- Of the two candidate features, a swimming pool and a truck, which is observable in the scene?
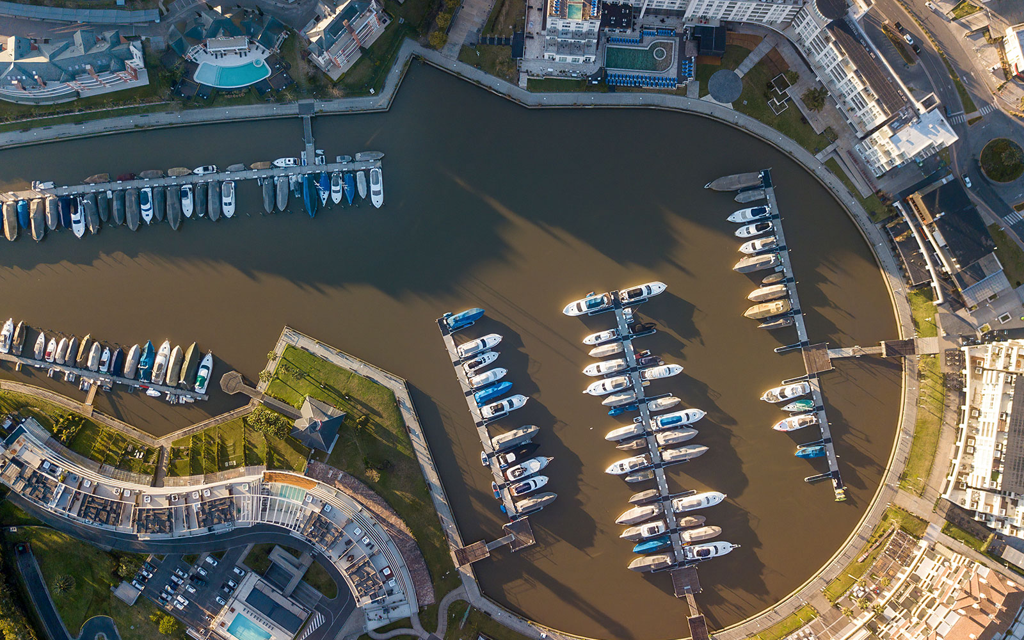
swimming pool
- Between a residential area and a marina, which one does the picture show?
marina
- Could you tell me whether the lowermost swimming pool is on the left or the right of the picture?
left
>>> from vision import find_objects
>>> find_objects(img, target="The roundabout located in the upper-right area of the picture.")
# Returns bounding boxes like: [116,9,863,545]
[980,138,1024,181]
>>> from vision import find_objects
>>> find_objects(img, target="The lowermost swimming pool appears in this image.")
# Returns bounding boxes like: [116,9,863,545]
[221,611,275,640]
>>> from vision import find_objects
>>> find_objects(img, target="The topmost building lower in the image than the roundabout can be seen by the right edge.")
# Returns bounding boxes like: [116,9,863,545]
[886,178,1011,308]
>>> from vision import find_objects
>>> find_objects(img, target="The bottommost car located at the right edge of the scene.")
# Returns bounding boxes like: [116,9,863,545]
[962,173,974,188]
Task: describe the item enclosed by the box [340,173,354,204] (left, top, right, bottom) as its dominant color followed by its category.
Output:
blue boat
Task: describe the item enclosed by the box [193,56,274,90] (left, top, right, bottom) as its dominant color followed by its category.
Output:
blue swimming pool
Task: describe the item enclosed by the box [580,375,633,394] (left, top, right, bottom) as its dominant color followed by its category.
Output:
white boat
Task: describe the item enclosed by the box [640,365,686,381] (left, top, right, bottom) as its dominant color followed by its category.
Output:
white boat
